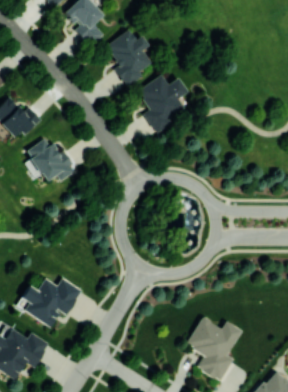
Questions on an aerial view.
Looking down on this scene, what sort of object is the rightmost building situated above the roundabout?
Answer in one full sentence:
Specifically, the rightmost building situated above the roundabout is a home.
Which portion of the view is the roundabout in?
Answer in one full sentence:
Look in the center portion of the view to spot the roundabout.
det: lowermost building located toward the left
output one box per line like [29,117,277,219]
[0,328,50,382]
